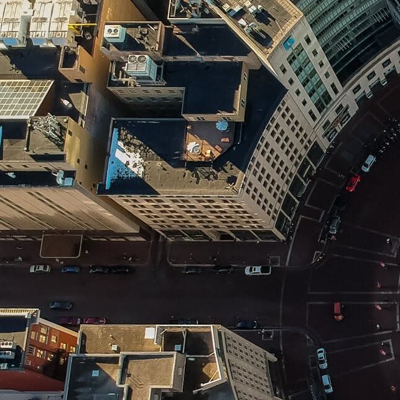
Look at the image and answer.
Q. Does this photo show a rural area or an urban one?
urban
